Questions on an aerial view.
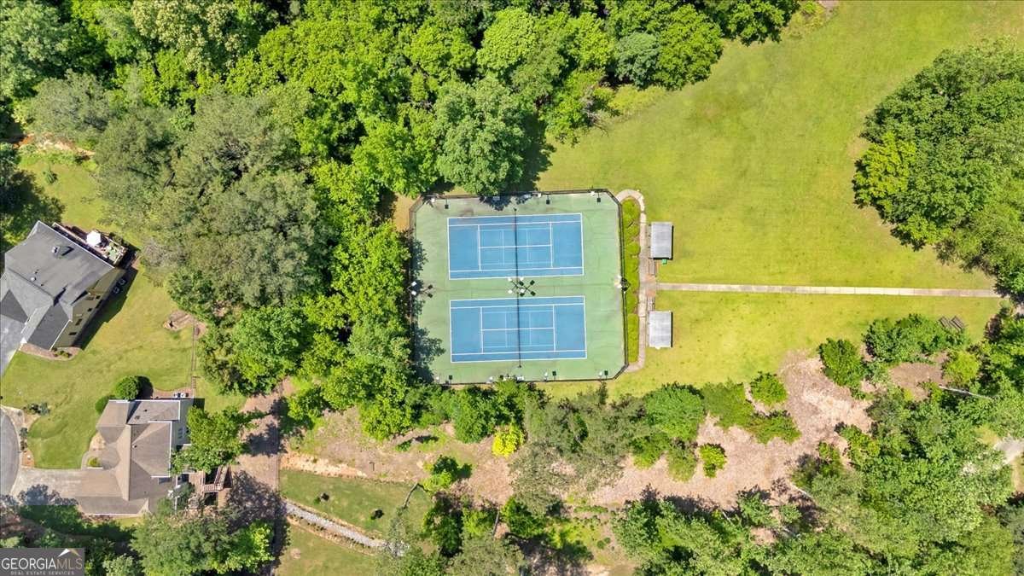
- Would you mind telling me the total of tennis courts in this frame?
2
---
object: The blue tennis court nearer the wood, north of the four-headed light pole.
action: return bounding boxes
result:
[448,209,583,283]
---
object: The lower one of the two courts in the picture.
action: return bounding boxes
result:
[450,293,586,367]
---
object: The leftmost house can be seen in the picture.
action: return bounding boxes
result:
[0,218,126,354]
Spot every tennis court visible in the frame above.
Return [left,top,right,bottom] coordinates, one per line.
[450,293,586,367]
[448,209,583,283]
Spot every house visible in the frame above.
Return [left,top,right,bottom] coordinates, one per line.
[0,218,126,354]
[79,397,192,515]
